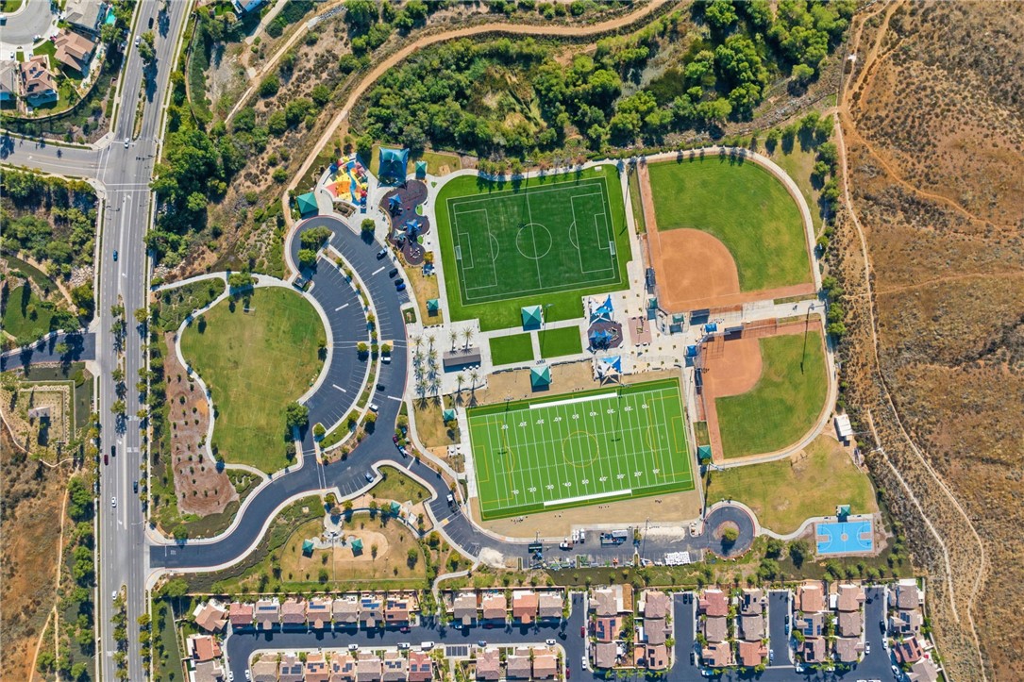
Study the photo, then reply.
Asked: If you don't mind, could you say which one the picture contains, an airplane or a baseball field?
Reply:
baseball field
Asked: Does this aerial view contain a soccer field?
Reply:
Yes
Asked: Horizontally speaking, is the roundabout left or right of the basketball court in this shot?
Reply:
to its left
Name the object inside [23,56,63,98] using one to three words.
house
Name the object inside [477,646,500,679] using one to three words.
house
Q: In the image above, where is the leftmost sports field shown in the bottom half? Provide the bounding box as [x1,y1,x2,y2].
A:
[466,378,695,521]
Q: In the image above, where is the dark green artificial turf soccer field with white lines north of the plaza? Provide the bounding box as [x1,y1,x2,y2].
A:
[446,176,622,305]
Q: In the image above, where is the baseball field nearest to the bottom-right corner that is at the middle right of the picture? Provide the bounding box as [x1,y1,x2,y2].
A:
[701,315,830,463]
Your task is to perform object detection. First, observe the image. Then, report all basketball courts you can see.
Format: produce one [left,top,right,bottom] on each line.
[815,519,875,557]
